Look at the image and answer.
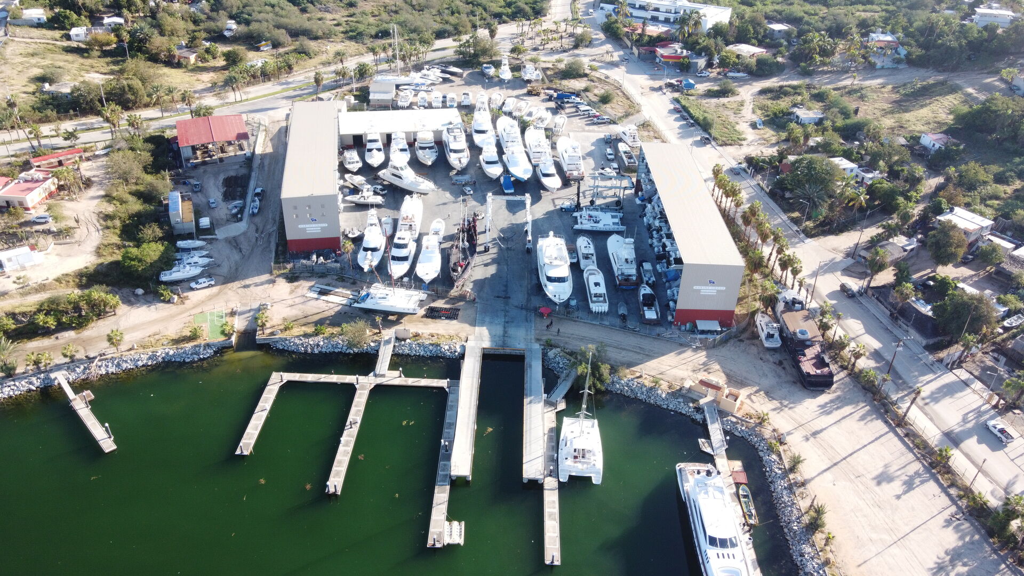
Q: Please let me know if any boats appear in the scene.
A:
Yes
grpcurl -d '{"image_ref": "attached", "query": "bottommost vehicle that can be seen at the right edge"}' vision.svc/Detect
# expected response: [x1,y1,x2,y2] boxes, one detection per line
[984,422,1022,446]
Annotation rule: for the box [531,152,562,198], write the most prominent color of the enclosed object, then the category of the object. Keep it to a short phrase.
white boat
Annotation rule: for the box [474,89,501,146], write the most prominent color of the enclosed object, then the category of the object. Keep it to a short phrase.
white boat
